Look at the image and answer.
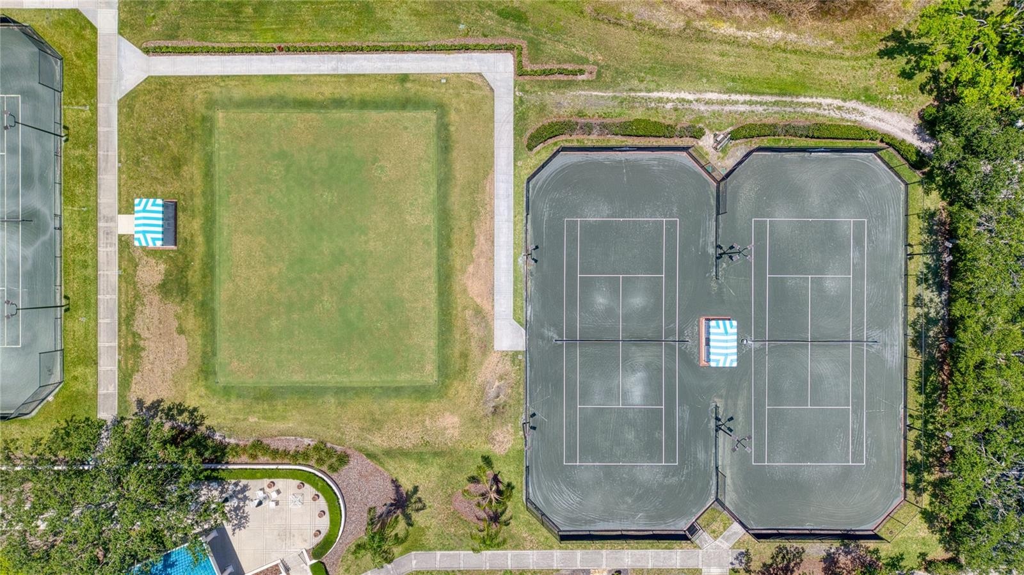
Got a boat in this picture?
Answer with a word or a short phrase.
No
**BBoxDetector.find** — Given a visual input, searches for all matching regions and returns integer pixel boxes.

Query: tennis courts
[717,152,905,531]
[527,152,716,530]
[0,26,62,414]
